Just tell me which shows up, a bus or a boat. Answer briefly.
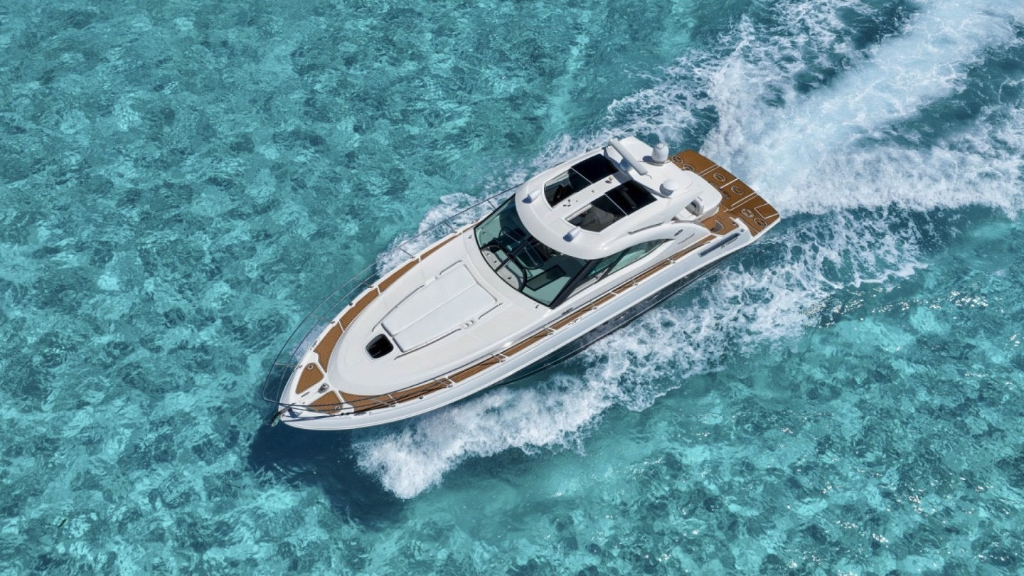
boat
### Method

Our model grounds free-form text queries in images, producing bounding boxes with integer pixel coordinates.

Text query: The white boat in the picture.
[257,130,780,438]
